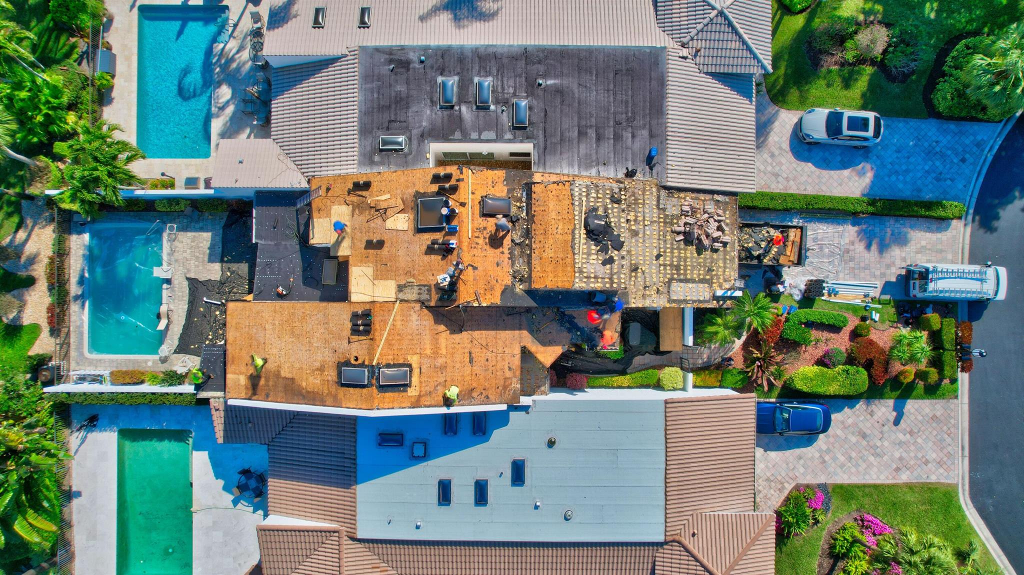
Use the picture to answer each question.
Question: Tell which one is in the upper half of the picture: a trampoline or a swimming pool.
swimming pool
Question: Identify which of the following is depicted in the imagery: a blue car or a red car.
blue car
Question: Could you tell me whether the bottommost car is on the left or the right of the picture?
right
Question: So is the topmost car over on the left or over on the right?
right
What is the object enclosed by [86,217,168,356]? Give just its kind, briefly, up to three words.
swimming pool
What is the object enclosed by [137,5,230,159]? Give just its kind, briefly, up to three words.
swimming pool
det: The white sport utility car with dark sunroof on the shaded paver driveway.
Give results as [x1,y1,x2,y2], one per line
[794,107,883,150]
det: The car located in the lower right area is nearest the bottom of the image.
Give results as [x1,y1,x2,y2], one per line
[757,399,832,439]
